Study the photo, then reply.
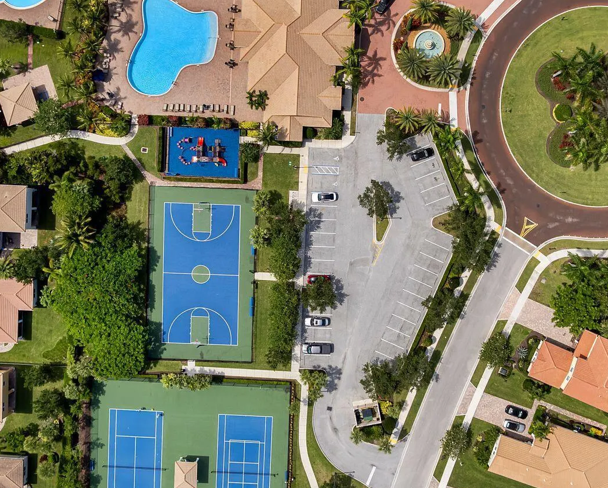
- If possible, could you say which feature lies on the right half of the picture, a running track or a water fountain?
water fountain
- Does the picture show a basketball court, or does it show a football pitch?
basketball court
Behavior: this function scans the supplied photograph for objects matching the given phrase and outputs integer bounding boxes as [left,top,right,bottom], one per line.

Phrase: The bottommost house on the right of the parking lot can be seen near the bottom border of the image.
[487,425,608,488]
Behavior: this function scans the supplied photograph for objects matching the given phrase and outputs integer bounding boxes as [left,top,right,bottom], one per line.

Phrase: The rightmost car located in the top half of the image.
[410,146,434,161]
